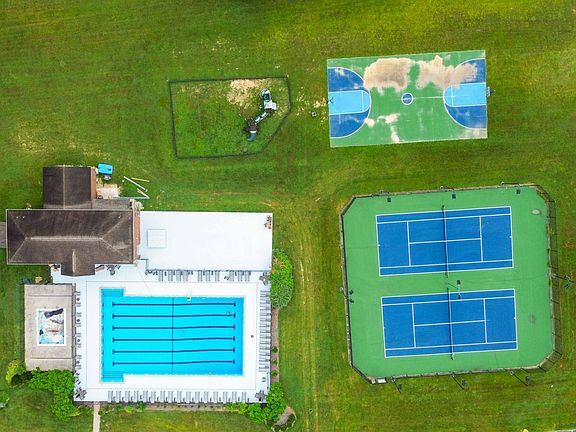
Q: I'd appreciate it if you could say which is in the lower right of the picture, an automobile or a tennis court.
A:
tennis court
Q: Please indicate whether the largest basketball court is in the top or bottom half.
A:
top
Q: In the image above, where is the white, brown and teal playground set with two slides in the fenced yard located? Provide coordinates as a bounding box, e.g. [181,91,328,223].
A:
[243,91,277,144]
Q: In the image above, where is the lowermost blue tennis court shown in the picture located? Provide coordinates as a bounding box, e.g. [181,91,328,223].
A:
[381,288,518,361]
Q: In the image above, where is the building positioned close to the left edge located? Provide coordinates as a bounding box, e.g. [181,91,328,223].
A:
[6,166,141,277]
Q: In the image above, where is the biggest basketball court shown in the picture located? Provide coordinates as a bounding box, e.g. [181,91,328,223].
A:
[327,50,487,147]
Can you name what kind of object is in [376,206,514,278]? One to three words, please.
tennis court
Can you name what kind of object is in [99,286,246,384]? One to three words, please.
swimming pool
